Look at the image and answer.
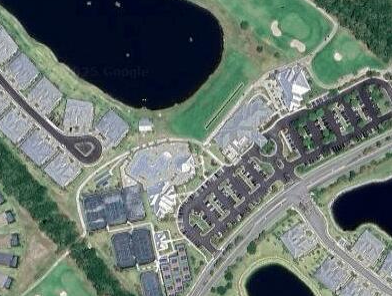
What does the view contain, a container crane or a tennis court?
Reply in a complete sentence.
Of the two, only a tennis court appears.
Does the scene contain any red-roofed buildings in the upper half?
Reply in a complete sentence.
No, no red-roofed building appears in the upper half.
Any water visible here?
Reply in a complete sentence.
Yes, there is water in the image.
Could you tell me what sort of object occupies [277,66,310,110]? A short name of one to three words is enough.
building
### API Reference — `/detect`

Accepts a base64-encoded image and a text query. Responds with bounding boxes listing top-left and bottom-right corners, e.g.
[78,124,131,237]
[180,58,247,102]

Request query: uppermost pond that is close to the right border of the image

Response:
[330,176,392,235]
